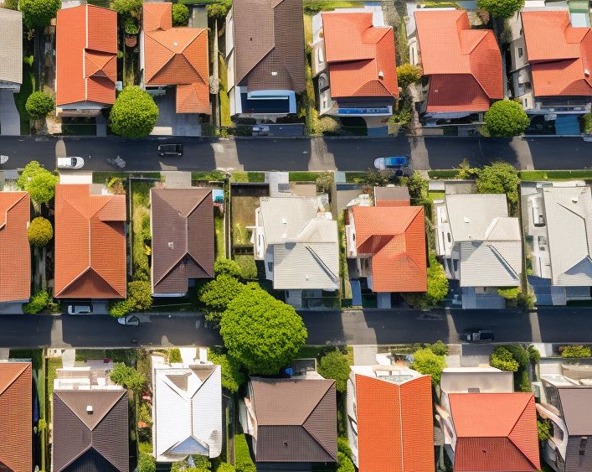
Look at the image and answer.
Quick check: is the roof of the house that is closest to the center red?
No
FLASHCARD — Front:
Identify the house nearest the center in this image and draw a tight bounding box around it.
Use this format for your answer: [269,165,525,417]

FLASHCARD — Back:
[249,196,342,289]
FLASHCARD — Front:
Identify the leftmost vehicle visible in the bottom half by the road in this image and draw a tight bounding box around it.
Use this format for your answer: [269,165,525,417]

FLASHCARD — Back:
[66,301,91,315]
